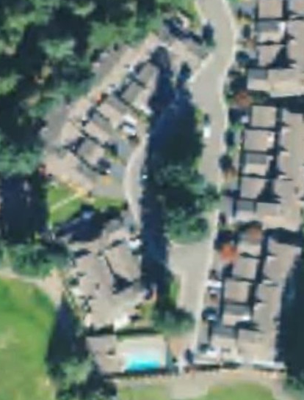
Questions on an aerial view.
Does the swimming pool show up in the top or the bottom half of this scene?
bottom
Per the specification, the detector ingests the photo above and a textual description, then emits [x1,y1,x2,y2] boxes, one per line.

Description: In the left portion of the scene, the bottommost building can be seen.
[87,335,123,374]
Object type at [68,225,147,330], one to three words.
house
